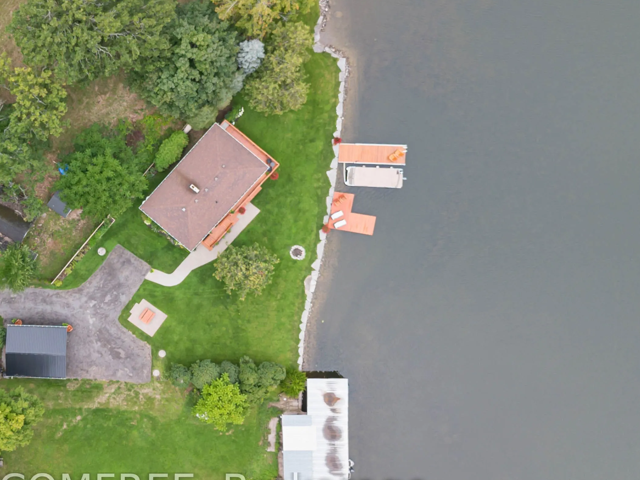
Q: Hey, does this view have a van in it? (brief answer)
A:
No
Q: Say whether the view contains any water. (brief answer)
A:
Yes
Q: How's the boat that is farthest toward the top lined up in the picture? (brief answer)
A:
from side to side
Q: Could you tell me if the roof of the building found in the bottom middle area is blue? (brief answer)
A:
No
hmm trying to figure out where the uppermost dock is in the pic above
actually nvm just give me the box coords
[338,143,408,166]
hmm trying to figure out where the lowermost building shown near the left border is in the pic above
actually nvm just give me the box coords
[5,324,70,380]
